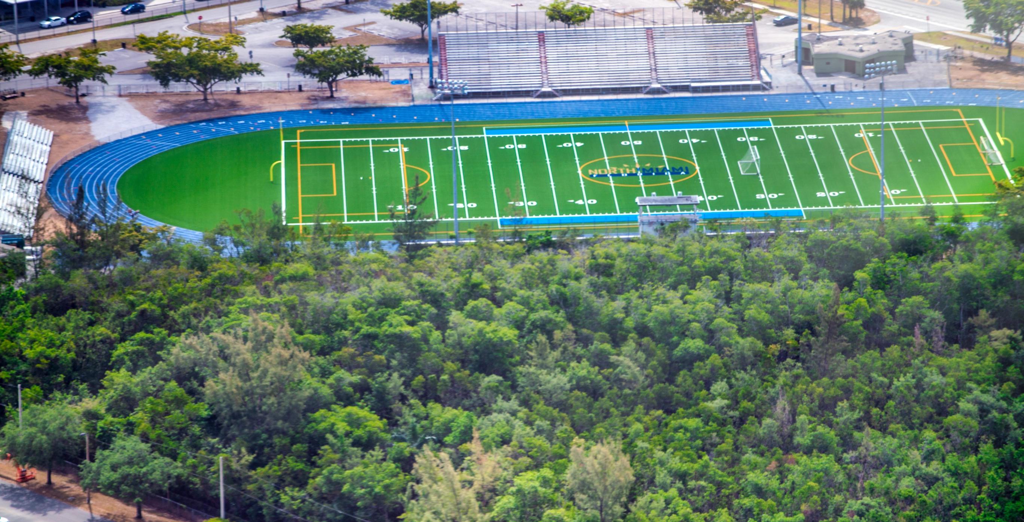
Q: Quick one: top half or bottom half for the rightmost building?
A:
top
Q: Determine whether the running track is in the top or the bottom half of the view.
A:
top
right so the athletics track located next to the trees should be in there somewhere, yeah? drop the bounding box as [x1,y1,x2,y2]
[42,89,1024,260]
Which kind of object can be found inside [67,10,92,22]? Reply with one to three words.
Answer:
vehicle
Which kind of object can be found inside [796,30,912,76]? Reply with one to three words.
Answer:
building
